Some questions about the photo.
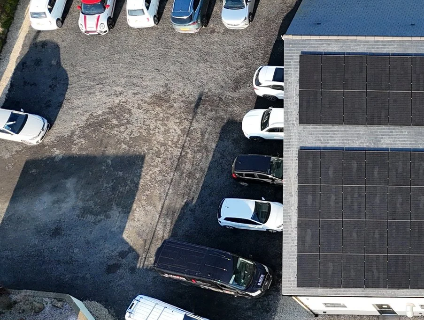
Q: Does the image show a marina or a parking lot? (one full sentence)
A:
It's a parking lot.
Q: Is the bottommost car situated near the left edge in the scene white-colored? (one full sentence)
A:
Yes, the bottommost car situated near the left edge is white.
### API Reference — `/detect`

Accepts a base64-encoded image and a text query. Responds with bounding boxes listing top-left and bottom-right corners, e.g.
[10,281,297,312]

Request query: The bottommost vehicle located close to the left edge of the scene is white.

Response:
[0,103,55,147]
